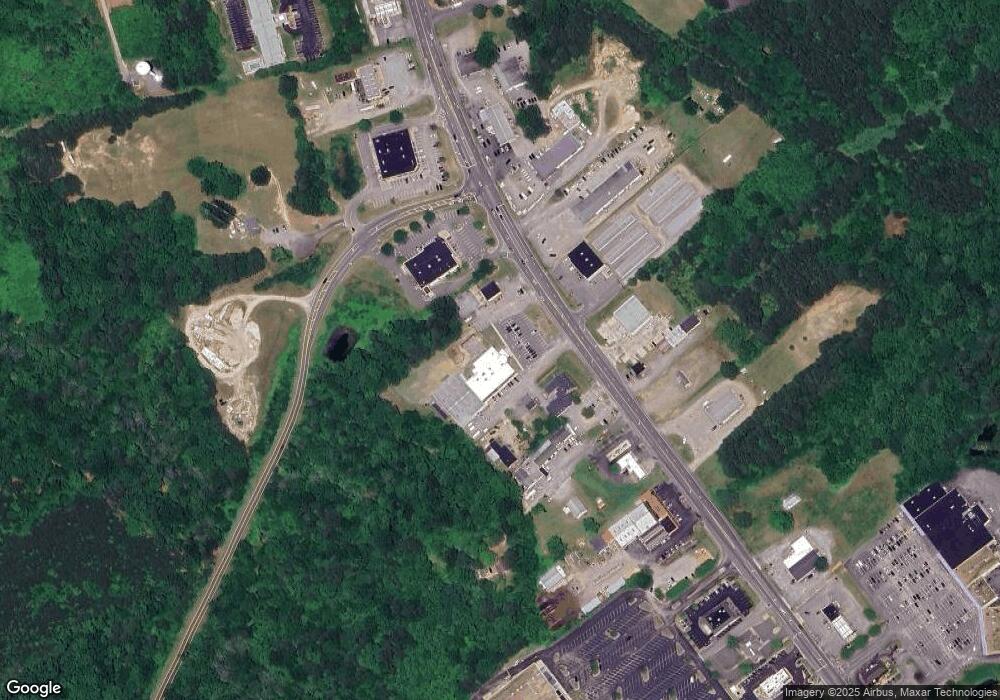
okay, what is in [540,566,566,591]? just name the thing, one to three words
barn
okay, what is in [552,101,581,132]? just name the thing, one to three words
building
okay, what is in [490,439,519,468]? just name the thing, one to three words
house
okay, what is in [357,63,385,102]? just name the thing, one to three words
building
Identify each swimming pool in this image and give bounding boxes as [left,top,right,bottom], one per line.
[241,58,265,74]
